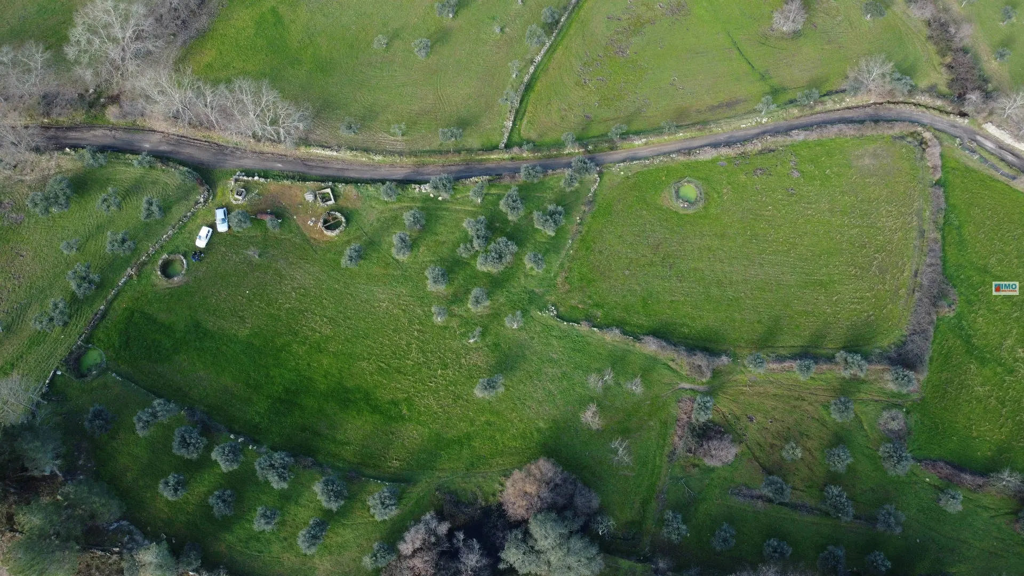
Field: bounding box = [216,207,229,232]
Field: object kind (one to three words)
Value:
vehicle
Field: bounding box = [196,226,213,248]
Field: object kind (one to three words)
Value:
car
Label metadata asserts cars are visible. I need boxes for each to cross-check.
[196,226,213,248]
[216,207,229,232]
